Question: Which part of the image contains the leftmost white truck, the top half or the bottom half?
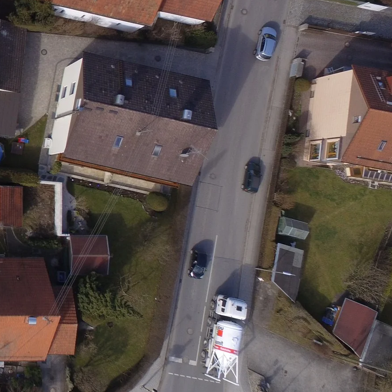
bottom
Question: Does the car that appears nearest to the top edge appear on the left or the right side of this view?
right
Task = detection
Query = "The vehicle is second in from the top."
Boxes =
[240,158,263,195]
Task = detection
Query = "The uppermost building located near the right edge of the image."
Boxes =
[308,65,392,196]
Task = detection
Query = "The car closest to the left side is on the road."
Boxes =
[187,244,208,282]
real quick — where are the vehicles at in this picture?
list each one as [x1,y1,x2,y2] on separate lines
[254,26,277,61]
[240,158,263,195]
[187,244,208,282]
[201,296,246,392]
